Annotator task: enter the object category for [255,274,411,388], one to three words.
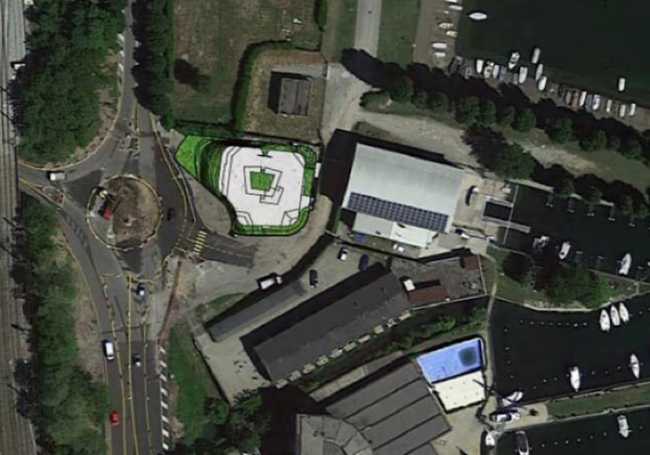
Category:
building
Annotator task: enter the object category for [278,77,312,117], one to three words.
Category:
shed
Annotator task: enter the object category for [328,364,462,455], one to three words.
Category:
building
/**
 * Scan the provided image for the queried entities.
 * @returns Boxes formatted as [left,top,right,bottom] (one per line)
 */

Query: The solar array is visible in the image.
[348,190,448,230]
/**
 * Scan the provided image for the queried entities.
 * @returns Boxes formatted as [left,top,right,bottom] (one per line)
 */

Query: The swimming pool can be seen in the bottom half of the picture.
[418,338,488,387]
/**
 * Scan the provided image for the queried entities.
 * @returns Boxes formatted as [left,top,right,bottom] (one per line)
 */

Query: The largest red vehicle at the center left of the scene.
[102,200,114,220]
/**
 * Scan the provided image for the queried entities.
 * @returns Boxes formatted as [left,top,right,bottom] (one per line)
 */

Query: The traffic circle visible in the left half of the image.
[88,175,161,250]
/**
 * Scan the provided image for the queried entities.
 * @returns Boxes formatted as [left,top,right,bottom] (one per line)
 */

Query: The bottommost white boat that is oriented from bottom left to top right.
[503,390,523,407]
